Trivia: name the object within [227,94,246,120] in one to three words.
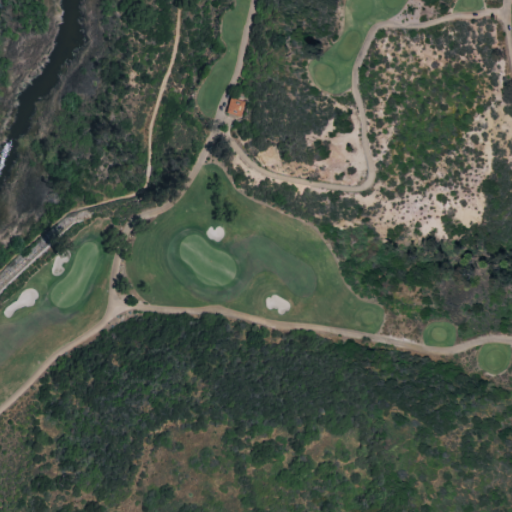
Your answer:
house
